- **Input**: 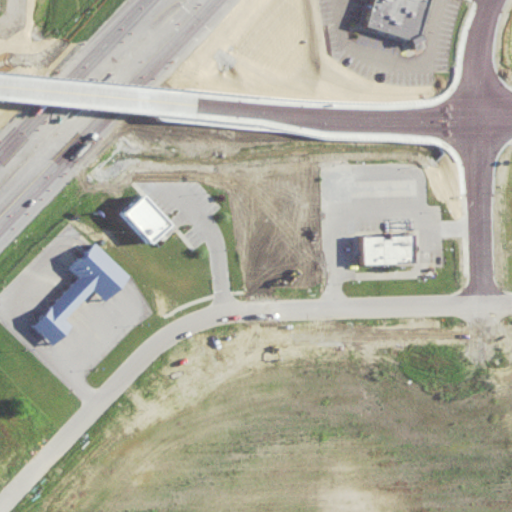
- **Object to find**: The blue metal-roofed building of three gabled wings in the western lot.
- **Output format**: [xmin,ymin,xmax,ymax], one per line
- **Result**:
[32,244,130,344]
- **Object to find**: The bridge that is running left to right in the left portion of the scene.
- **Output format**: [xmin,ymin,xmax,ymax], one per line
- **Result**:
[0,74,198,121]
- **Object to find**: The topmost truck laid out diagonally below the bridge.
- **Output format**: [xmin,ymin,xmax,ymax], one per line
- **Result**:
[72,134,98,162]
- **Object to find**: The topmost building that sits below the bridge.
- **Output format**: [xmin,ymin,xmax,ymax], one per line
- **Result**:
[122,196,174,244]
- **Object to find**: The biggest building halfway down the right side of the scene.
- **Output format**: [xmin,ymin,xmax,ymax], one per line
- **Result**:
[360,235,416,266]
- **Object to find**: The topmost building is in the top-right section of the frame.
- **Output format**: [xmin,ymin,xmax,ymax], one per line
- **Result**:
[363,0,432,57]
